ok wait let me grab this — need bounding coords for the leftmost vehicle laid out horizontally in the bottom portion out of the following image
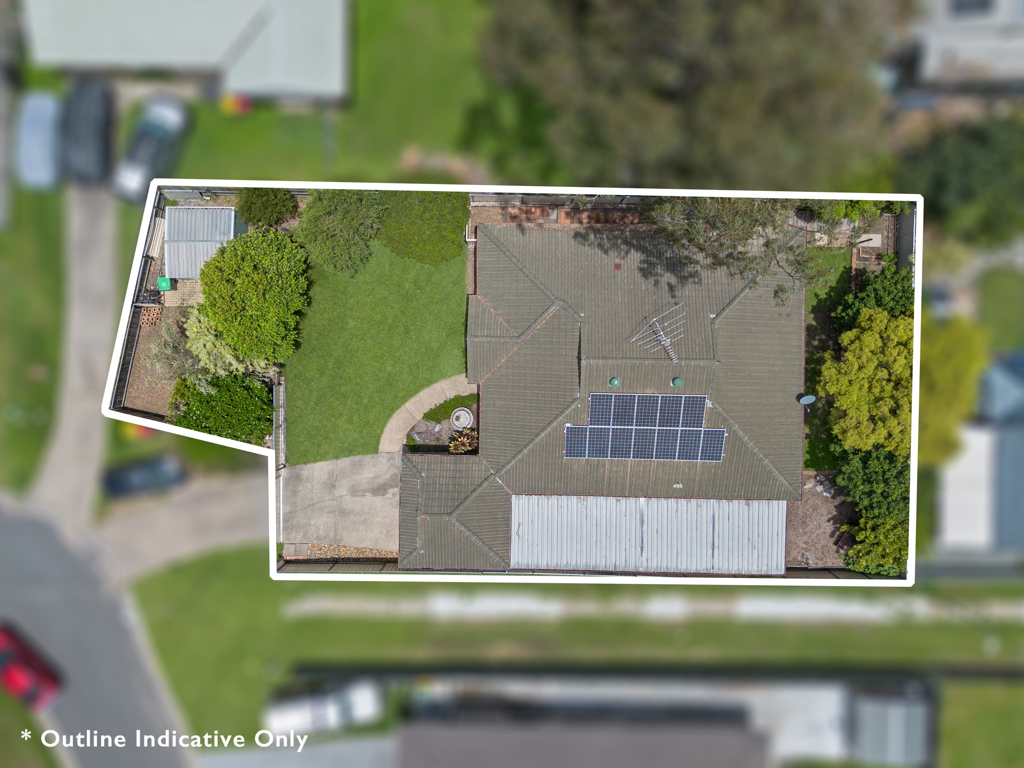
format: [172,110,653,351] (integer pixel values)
[108,450,195,497]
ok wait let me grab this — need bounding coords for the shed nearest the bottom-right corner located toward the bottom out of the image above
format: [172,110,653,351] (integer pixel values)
[839,690,923,763]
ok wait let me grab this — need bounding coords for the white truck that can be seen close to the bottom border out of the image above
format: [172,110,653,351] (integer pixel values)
[264,677,383,740]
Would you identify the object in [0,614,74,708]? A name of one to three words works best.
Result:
car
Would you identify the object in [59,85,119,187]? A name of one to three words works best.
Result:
van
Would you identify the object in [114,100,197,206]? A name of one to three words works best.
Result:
car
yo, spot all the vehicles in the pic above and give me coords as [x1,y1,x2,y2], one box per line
[264,677,383,740]
[108,450,195,497]
[0,614,74,708]
[59,85,119,187]
[114,100,197,206]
